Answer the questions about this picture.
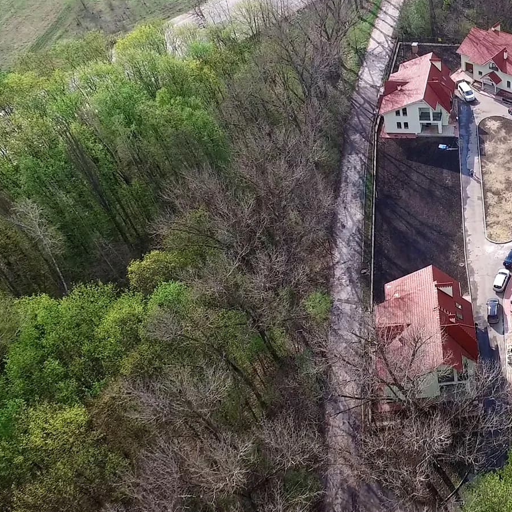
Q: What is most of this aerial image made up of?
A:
trees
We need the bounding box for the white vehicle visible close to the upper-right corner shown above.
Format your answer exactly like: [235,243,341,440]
[458,81,472,98]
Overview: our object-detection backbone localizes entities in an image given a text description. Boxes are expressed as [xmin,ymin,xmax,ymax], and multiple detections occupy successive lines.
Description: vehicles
[458,81,472,98]
[503,251,512,267]
[488,300,501,322]
[493,272,509,290]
